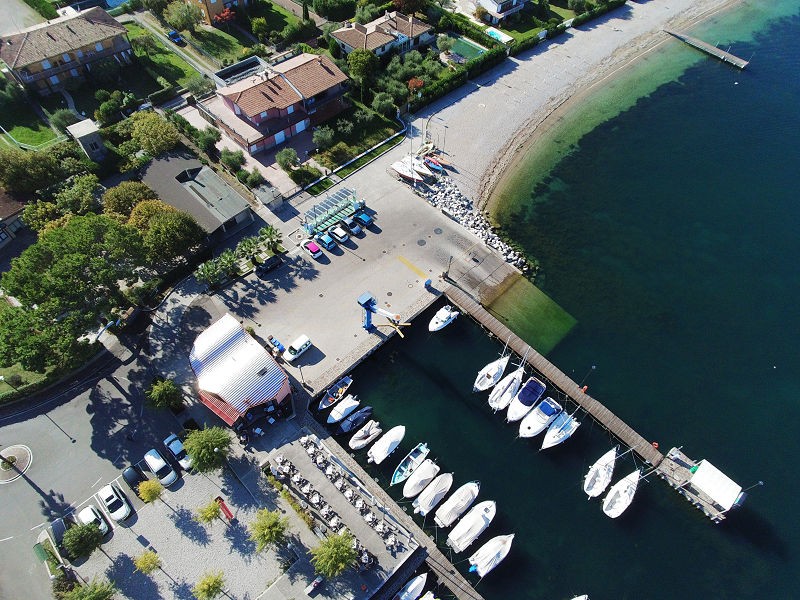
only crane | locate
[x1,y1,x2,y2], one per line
[358,291,412,338]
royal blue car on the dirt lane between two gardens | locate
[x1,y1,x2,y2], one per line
[164,27,185,47]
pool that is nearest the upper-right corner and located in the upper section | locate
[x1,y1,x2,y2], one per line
[477,21,519,48]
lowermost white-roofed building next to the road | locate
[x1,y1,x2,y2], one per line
[188,312,290,435]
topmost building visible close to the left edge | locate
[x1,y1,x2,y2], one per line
[0,3,136,102]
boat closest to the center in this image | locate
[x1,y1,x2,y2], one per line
[430,303,462,330]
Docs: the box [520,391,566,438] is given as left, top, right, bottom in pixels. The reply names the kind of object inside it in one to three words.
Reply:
boat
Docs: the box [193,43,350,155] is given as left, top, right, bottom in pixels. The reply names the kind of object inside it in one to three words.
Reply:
house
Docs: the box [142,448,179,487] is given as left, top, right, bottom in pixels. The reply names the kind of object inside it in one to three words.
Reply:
car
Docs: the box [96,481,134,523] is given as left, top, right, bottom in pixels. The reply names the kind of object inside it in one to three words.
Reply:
car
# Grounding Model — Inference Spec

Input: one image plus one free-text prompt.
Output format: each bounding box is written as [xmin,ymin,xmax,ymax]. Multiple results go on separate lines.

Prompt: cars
[351,209,377,231]
[118,462,155,503]
[96,481,134,523]
[142,448,179,487]
[280,331,312,363]
[45,514,80,552]
[75,500,112,537]
[327,223,353,247]
[314,231,340,255]
[299,238,325,262]
[164,27,185,47]
[338,215,364,240]
[162,432,195,470]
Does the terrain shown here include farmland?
No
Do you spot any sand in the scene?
Yes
